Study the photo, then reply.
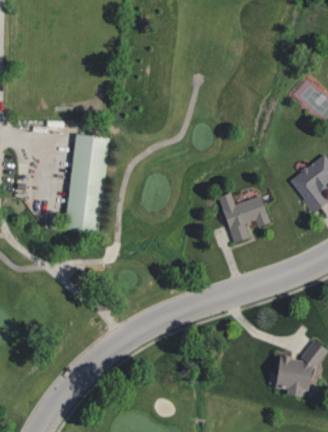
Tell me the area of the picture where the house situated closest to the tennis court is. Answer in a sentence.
The house situated closest to the tennis court appears toward the right of the photo.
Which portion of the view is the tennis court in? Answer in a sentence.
The tennis court appears toward the top right of the photo.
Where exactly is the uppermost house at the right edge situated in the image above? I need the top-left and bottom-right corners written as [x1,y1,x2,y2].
[293,156,328,212]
